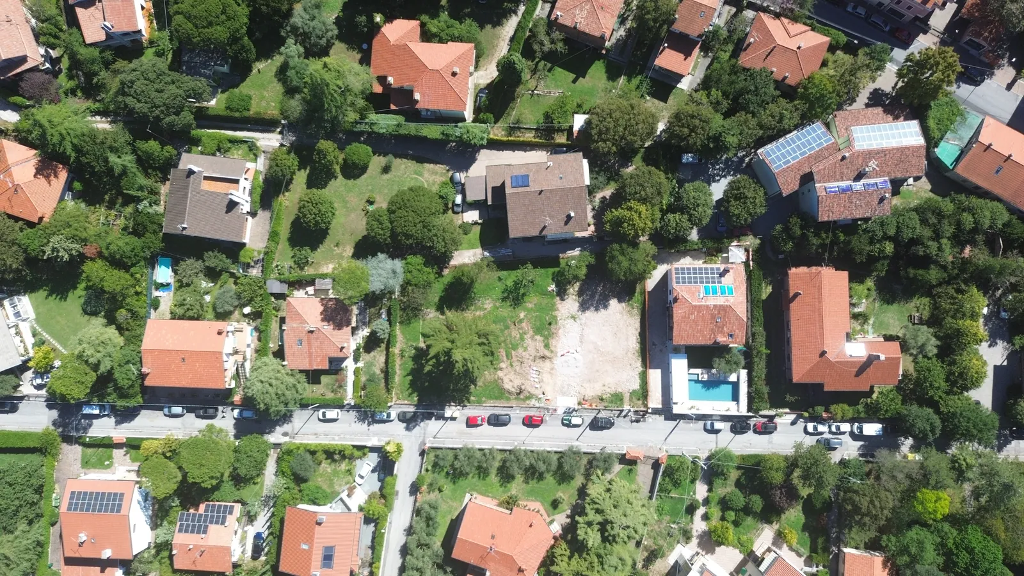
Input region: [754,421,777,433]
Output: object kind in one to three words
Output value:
vehicle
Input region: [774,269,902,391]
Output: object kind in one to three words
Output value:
house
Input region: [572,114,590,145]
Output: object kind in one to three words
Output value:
shed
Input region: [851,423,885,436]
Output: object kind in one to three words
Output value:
vehicle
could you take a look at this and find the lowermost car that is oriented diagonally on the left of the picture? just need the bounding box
[354,459,375,485]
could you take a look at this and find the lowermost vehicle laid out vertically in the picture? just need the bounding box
[253,533,265,557]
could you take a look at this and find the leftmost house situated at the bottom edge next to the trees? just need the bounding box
[60,471,151,576]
